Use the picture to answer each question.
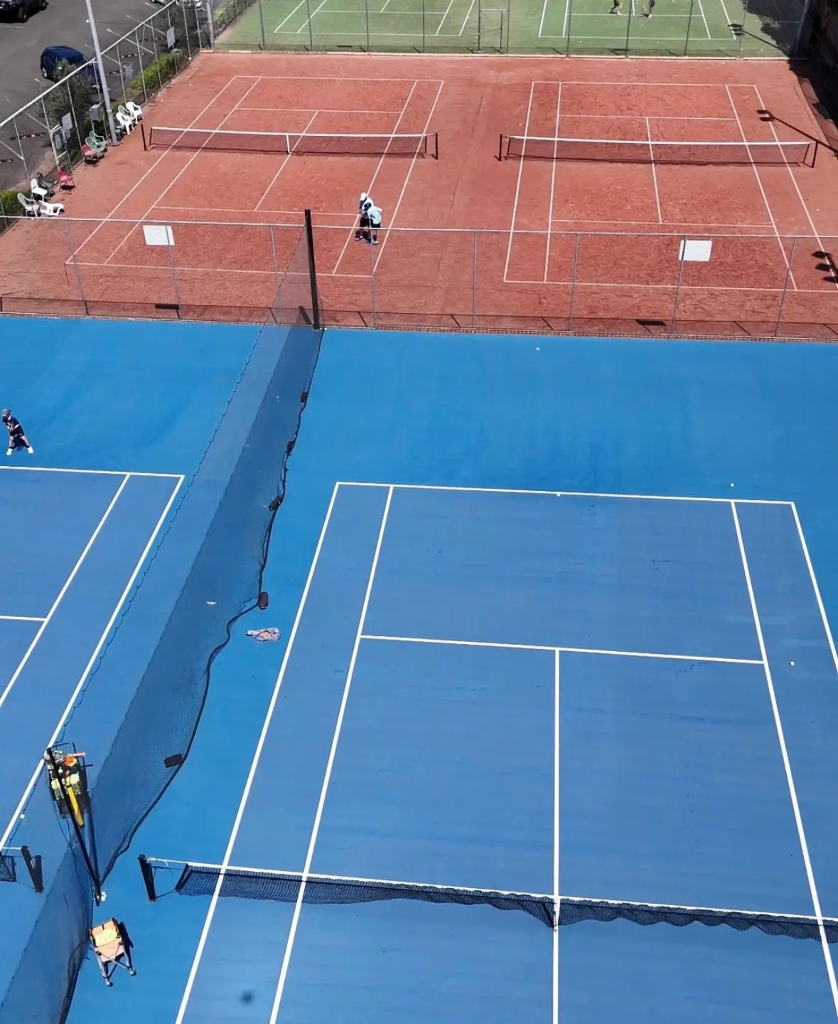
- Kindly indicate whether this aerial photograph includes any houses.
No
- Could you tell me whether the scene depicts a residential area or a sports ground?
sports ground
